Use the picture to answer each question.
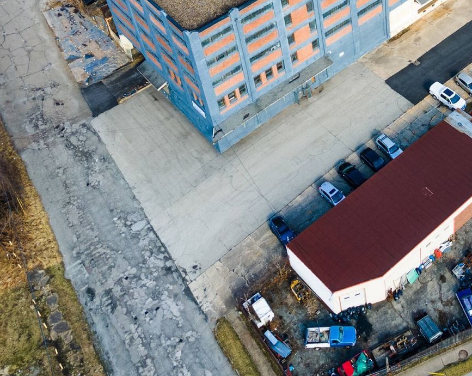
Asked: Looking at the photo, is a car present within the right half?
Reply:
Yes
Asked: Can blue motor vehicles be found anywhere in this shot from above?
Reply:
Yes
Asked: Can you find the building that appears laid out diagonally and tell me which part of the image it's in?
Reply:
right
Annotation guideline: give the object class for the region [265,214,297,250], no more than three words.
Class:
car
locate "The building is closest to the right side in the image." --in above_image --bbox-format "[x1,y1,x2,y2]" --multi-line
[285,110,472,311]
